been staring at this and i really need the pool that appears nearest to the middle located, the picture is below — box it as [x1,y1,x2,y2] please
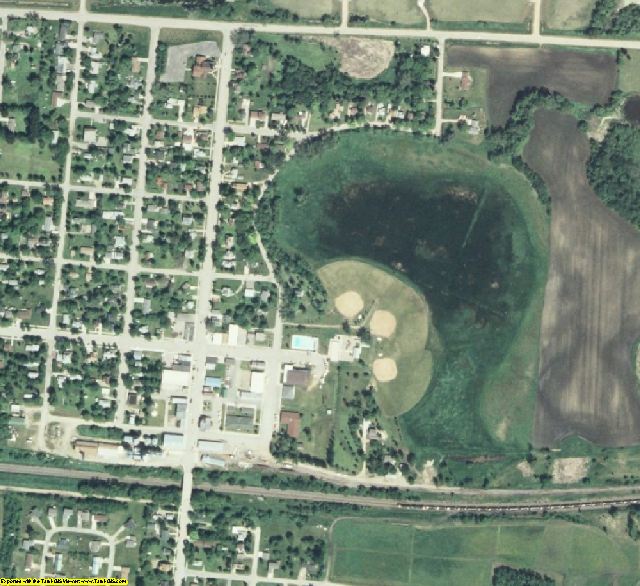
[291,335,318,351]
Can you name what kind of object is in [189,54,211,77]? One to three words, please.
building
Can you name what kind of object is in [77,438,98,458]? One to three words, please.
building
